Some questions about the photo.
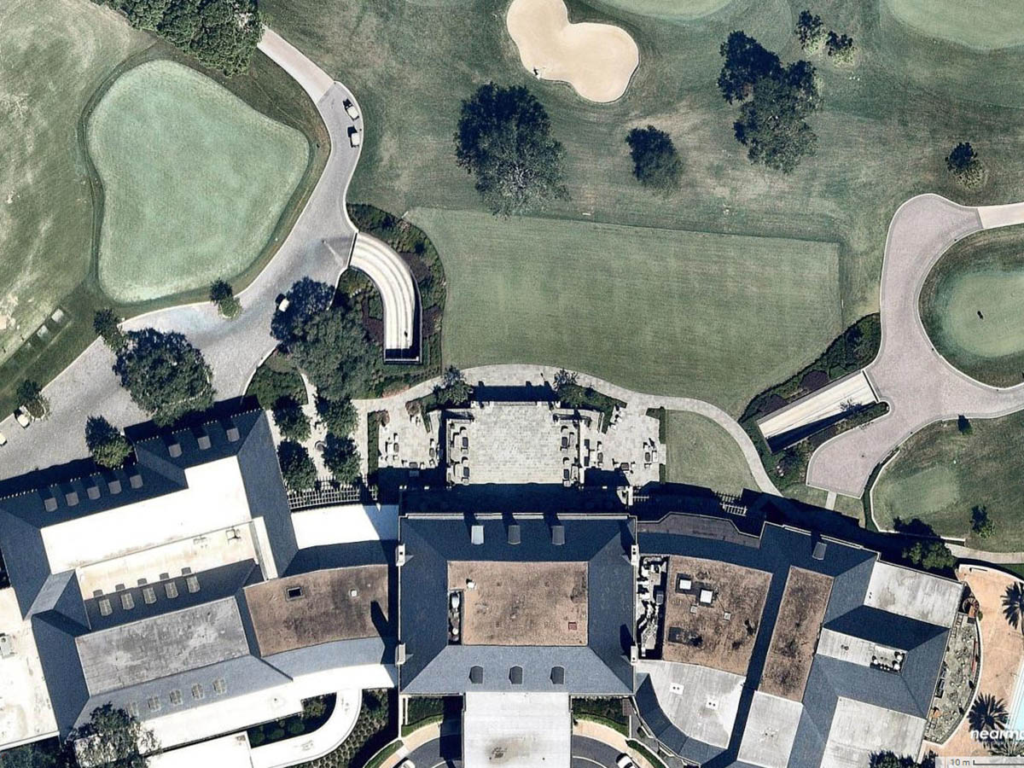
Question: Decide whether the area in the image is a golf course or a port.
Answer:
golf course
